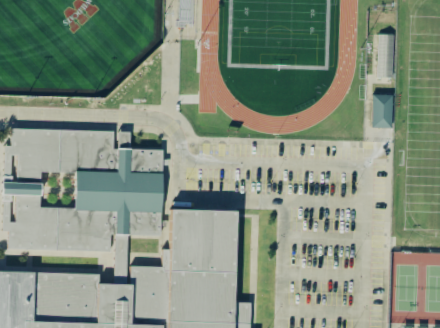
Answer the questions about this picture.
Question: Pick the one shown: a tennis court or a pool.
tennis court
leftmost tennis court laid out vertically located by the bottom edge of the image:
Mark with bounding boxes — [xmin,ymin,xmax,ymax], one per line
[394,264,419,312]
